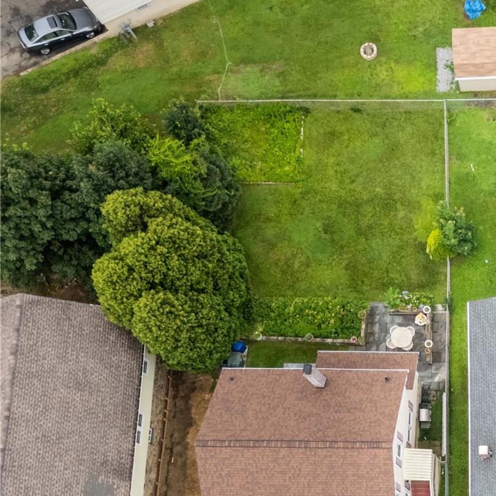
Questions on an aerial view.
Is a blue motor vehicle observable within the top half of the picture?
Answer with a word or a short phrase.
No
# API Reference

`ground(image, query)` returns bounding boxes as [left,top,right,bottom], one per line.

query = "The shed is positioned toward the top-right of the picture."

[452,26,496,95]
